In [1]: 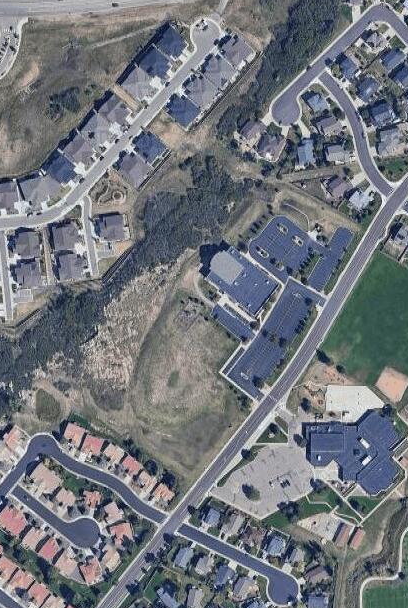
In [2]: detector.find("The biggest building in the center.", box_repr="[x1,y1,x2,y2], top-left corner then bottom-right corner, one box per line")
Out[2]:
[204,247,280,317]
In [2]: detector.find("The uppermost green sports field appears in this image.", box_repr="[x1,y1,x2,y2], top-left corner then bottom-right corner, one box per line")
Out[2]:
[321,251,408,408]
